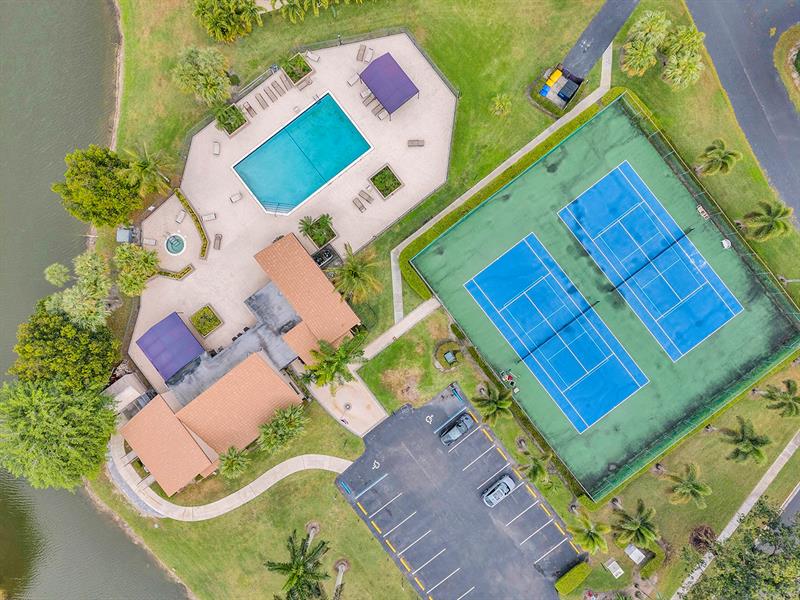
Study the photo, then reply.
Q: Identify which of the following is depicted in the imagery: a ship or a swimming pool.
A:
swimming pool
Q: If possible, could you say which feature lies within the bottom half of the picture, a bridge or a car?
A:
car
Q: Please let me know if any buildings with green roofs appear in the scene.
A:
No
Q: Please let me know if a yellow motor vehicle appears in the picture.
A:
No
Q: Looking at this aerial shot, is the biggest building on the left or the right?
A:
left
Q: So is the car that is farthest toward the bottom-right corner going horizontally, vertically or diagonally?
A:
diagonally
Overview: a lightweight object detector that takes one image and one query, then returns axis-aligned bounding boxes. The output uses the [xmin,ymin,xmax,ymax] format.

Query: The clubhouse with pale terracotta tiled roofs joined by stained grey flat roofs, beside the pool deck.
[121,233,360,497]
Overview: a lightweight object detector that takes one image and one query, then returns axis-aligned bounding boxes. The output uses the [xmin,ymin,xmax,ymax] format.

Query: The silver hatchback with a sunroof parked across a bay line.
[481,477,517,510]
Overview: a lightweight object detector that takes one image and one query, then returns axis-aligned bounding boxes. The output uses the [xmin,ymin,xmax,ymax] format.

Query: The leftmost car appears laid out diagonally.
[439,416,475,448]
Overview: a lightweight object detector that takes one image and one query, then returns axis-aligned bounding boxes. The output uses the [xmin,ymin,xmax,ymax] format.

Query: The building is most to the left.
[109,227,141,241]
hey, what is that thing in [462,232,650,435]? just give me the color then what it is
blue tennis court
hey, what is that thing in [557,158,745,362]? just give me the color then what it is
blue tennis court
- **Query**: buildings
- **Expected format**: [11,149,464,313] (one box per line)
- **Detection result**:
[121,233,360,497]
[109,227,141,241]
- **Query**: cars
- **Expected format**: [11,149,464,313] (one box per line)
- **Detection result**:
[481,477,517,510]
[439,416,475,448]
